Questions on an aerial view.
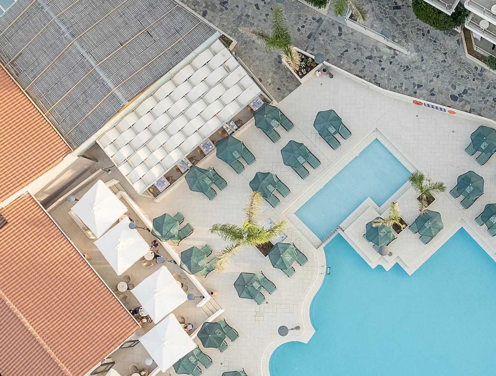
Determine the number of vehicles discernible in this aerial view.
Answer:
0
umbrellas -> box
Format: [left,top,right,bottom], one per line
[253,103,283,132]
[139,314,197,372]
[233,274,263,303]
[267,241,297,270]
[199,319,228,347]
[179,247,210,276]
[365,216,393,244]
[218,138,248,167]
[454,169,483,198]
[175,353,202,376]
[94,217,149,275]
[415,210,445,240]
[467,125,496,156]
[130,266,188,323]
[314,108,343,137]
[154,214,184,244]
[251,172,282,202]
[282,143,312,173]
[482,202,496,231]
[71,180,128,237]
[223,369,246,376]
[185,163,215,192]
